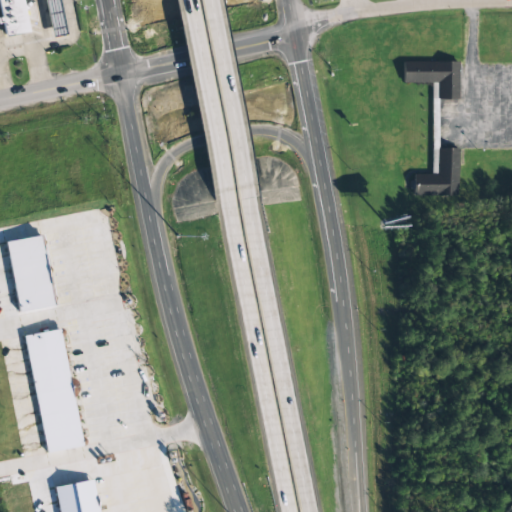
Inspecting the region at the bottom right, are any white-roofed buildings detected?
No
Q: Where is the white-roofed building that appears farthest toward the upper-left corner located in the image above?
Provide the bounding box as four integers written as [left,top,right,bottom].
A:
[0,0,32,35]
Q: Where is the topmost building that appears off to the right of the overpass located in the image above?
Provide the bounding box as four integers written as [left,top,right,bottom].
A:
[404,60,461,99]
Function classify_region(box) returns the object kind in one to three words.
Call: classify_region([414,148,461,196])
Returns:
building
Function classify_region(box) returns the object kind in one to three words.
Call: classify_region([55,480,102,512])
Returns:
building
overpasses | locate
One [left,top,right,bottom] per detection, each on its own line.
[180,0,261,202]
